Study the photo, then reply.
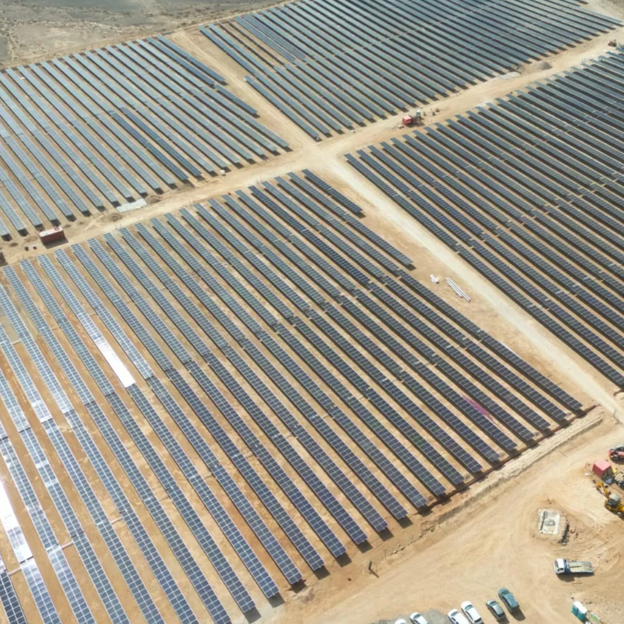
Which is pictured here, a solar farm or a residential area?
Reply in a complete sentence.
This looks like a solar farm.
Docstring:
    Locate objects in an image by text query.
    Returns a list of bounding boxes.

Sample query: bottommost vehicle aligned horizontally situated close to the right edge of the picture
[554,556,594,576]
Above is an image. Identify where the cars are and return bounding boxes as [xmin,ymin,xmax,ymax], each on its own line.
[449,608,470,624]
[462,601,483,624]
[396,618,410,624]
[411,612,429,624]
[499,587,521,613]
[487,600,507,622]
